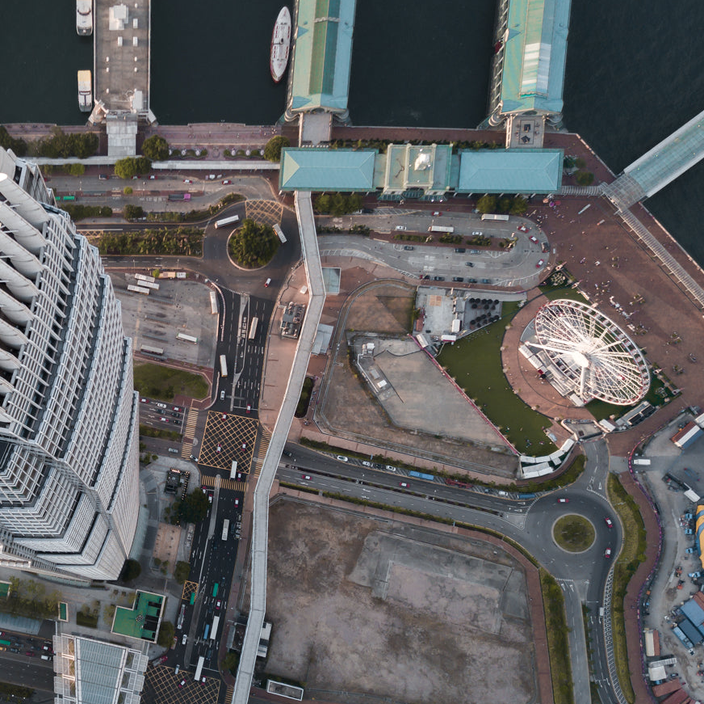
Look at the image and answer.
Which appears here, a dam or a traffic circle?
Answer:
traffic circle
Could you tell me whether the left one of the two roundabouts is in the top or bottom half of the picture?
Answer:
top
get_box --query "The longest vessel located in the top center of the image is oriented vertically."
[269,8,290,90]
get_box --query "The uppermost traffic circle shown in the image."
[226,217,280,271]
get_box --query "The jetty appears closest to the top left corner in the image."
[86,0,157,142]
